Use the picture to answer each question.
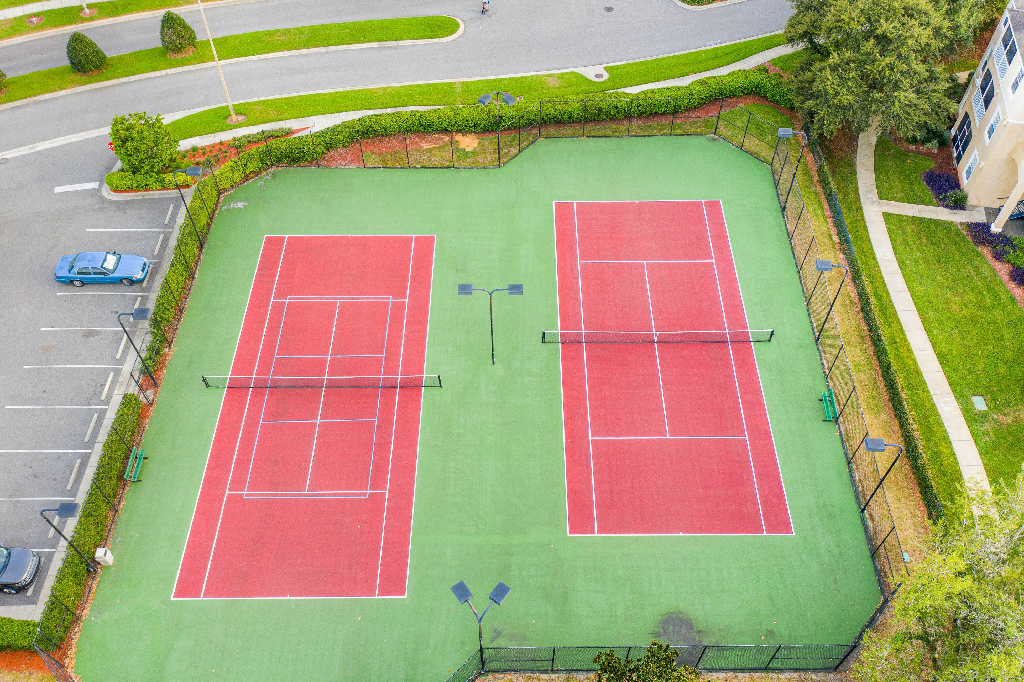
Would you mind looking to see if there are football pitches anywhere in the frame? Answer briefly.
No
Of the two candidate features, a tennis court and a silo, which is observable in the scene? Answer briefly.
tennis court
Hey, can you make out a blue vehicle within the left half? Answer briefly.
Yes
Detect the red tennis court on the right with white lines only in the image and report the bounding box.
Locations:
[554,199,794,536]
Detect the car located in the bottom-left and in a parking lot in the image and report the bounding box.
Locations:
[0,542,40,596]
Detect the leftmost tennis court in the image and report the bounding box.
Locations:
[172,235,436,598]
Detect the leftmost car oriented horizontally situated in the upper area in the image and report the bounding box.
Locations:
[52,249,150,287]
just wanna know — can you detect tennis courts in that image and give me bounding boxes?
[172,235,436,598]
[554,199,794,536]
